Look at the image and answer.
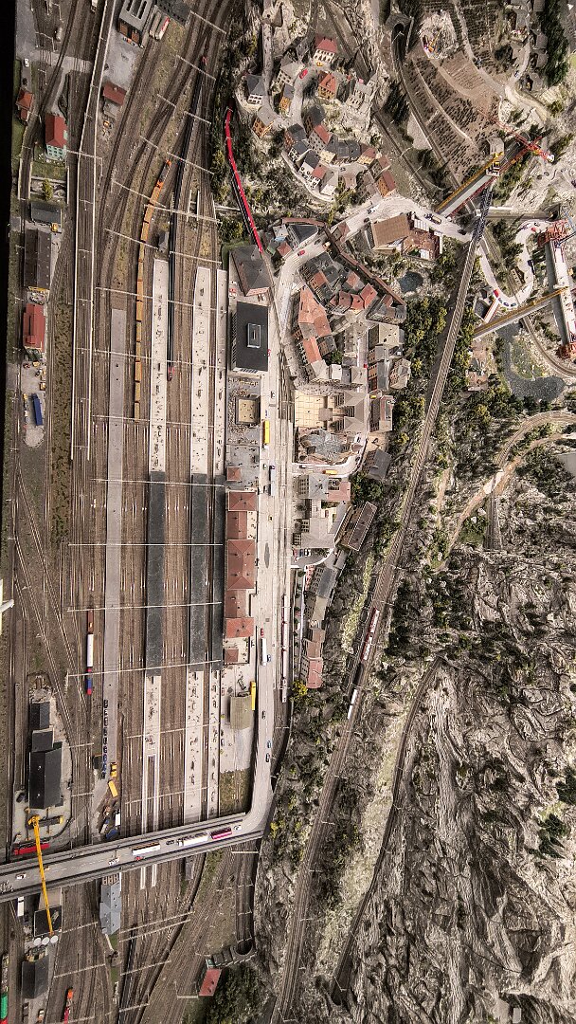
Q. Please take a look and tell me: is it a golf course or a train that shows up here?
train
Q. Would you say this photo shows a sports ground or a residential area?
residential area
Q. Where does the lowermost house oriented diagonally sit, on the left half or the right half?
right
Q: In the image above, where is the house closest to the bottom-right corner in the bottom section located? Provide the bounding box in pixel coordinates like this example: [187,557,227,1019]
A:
[501,994,522,1023]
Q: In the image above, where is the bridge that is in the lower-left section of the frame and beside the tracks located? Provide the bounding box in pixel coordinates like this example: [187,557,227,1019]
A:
[0,622,277,902]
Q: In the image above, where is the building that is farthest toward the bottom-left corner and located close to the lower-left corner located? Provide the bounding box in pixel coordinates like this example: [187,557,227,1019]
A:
[22,948,48,998]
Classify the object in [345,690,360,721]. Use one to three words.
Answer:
train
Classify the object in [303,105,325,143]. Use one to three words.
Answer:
house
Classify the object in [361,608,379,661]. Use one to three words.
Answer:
train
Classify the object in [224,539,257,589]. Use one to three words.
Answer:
building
